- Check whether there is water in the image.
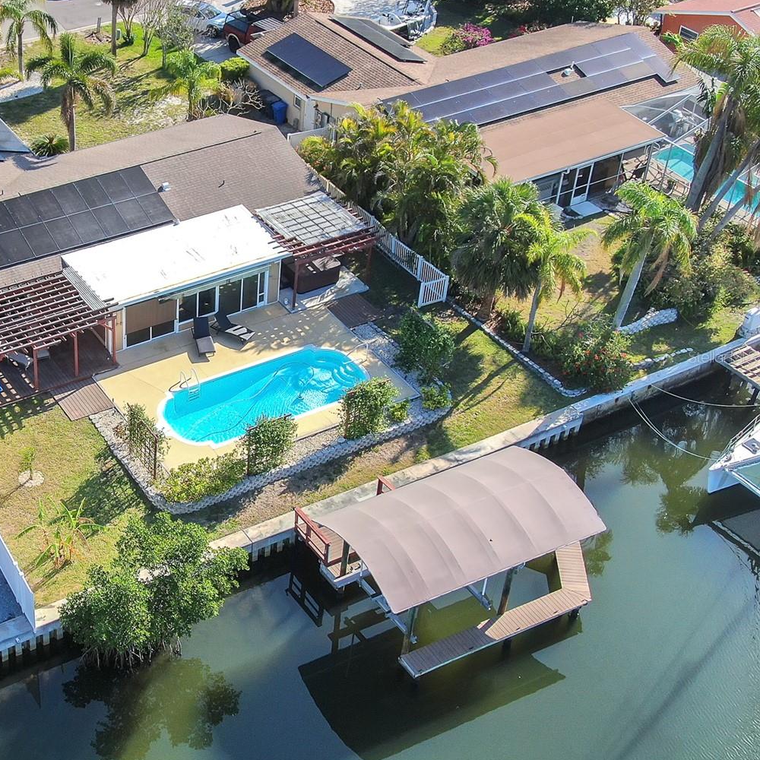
Yes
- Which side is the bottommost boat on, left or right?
right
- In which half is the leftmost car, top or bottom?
top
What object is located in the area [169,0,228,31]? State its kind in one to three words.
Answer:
car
